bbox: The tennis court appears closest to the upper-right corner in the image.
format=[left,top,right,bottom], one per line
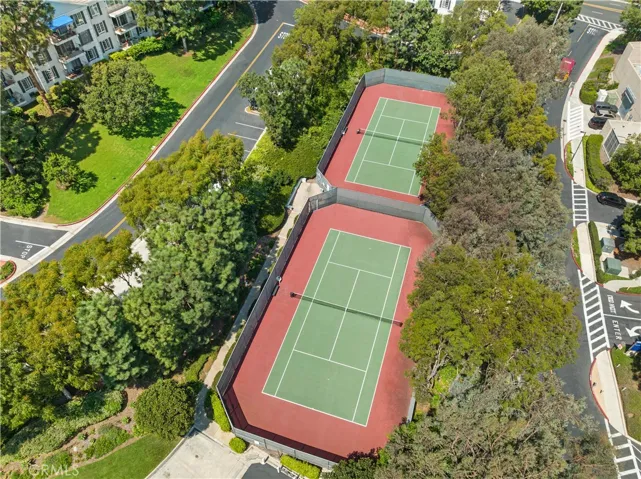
[327,83,452,208]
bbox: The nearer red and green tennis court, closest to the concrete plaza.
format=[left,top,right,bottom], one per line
[223,202,437,471]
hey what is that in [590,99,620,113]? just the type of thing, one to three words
car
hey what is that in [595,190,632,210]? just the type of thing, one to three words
car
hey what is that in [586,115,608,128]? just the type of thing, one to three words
vehicle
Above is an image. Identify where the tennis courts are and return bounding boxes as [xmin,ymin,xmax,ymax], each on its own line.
[223,202,437,471]
[327,83,452,208]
